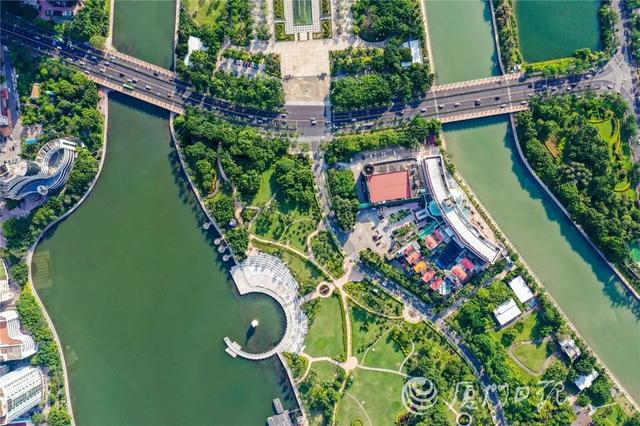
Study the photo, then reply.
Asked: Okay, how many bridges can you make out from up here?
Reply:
two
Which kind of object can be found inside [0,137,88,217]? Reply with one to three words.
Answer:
building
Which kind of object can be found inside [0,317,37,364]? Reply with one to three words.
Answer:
building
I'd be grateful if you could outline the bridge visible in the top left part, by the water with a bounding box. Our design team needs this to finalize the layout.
[100,49,182,110]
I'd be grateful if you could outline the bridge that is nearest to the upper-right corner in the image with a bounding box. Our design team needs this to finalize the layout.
[431,75,516,123]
